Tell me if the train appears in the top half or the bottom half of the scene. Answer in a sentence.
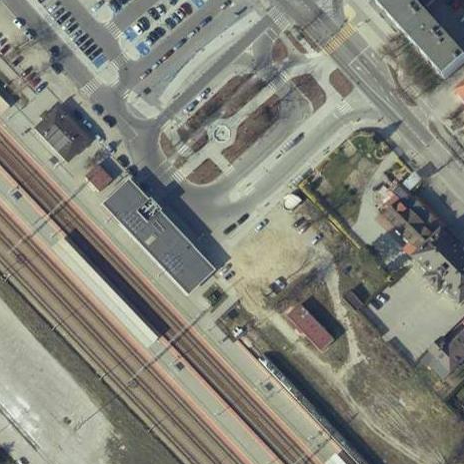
Seen from above, the train lies in the bottom half of the view.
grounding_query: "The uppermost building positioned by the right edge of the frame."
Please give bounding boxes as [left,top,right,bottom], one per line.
[374,0,463,76]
